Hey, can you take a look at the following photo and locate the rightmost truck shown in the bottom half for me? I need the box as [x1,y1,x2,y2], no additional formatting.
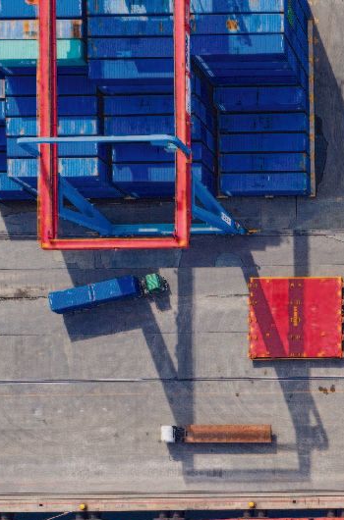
[161,423,271,445]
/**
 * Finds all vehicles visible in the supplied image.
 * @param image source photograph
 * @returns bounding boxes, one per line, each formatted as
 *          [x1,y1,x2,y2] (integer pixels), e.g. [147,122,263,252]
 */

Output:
[161,423,271,445]
[58,269,170,314]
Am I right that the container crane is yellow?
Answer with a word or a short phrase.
No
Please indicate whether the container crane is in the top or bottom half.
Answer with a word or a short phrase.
top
